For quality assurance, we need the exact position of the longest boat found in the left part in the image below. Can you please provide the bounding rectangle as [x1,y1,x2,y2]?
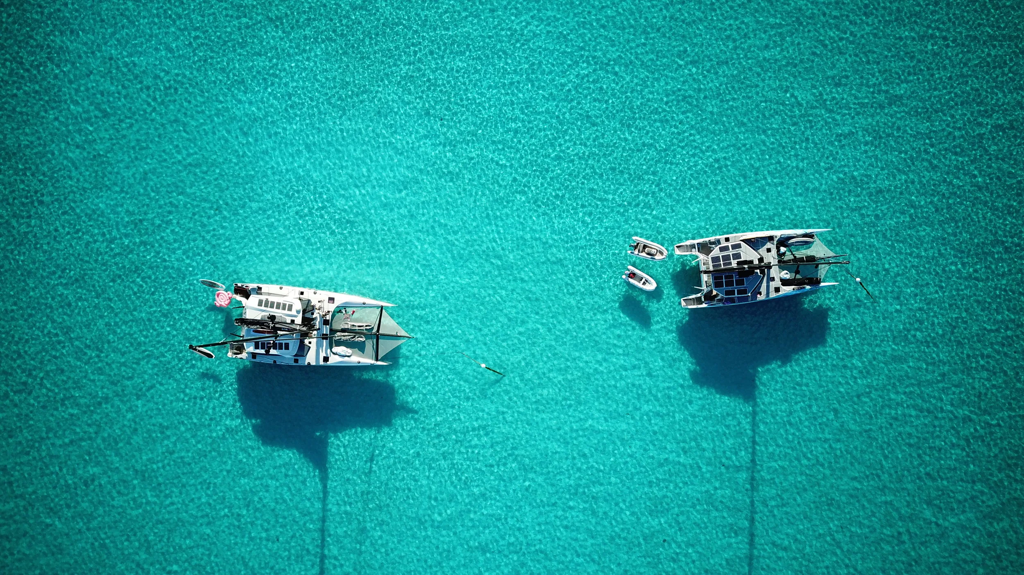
[184,283,414,365]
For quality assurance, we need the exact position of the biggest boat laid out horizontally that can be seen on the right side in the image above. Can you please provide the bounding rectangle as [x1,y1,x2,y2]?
[673,229,853,308]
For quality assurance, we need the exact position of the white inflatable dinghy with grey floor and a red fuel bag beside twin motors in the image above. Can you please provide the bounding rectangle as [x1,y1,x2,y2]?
[622,263,658,290]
